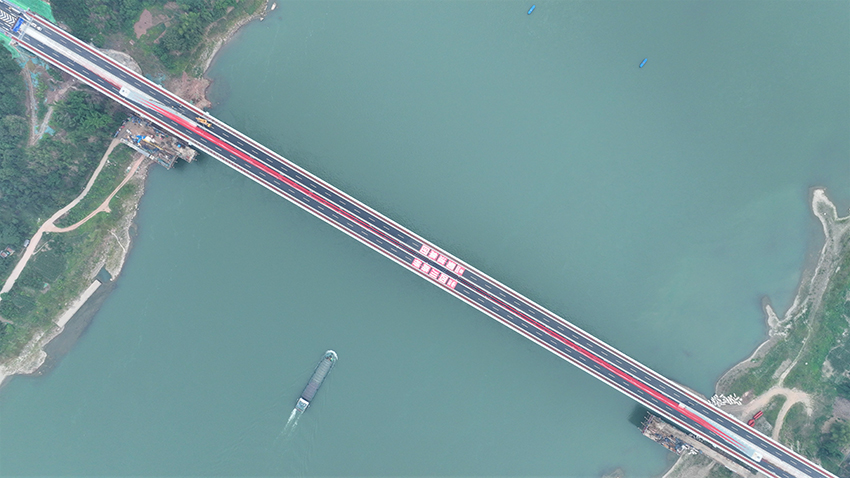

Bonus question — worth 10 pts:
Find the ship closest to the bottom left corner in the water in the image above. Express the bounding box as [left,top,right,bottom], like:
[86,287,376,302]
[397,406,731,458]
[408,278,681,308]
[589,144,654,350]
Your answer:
[294,350,335,414]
